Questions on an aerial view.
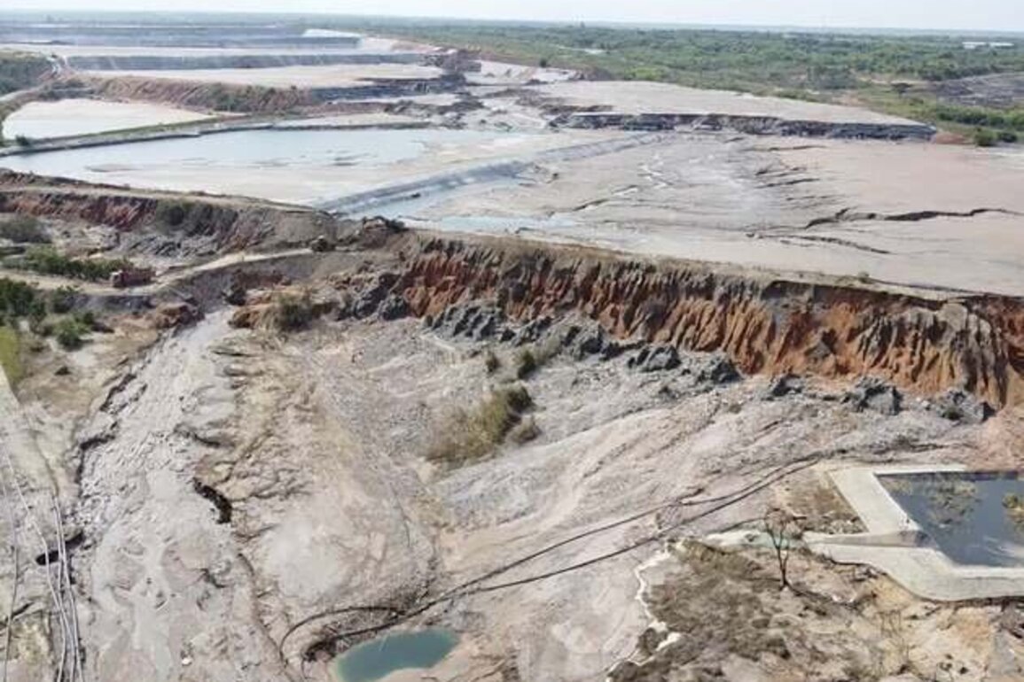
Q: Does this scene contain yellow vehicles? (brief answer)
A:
No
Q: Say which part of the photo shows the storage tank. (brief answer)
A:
bottom right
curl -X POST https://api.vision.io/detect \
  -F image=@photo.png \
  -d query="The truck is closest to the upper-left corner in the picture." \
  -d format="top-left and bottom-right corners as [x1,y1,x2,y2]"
[107,262,155,286]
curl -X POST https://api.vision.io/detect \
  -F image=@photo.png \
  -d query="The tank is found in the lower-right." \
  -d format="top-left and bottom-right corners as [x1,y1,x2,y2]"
[801,467,1024,612]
